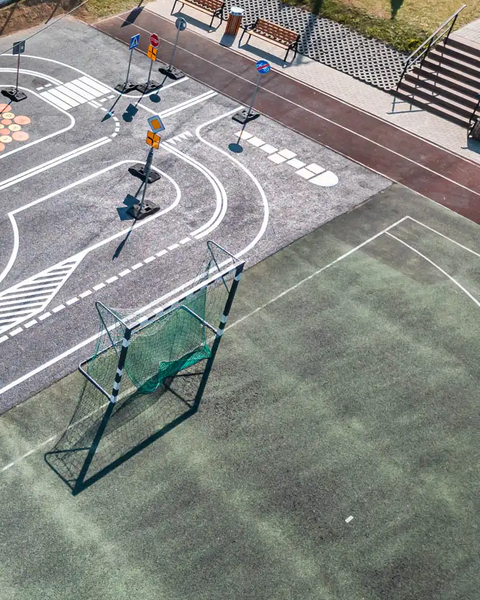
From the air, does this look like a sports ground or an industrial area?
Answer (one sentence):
This looks like a sports ground.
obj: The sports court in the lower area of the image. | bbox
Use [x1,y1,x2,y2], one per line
[0,185,480,600]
